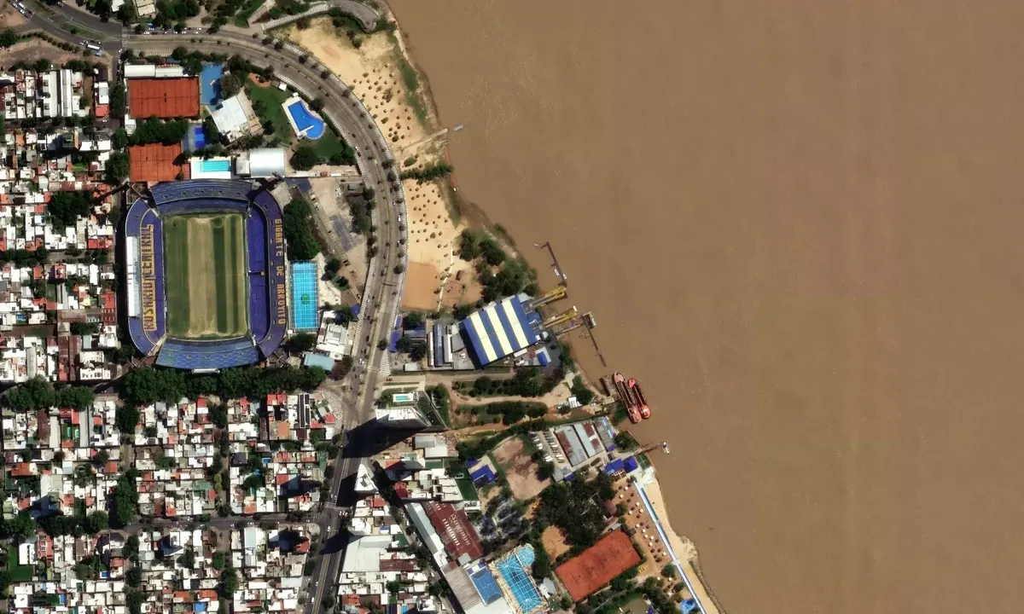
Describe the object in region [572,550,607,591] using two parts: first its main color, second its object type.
red tennis court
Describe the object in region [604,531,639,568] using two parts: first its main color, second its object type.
red tennis court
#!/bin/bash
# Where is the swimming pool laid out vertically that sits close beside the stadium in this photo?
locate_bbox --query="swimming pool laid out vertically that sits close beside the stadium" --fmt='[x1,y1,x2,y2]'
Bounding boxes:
[290,261,320,330]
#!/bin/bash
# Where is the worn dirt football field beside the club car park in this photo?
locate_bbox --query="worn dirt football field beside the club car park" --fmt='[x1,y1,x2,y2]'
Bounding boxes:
[495,438,547,500]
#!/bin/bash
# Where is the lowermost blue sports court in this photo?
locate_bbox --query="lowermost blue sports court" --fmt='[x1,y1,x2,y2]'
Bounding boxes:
[472,566,503,606]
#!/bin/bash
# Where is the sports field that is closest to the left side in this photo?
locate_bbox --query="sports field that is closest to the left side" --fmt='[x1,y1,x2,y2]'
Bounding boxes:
[161,211,251,342]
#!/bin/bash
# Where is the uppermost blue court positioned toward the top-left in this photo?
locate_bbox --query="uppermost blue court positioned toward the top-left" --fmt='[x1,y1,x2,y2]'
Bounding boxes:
[201,63,222,105]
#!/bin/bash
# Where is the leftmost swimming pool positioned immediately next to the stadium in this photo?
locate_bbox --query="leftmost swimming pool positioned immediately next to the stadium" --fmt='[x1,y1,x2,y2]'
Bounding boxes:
[191,157,231,179]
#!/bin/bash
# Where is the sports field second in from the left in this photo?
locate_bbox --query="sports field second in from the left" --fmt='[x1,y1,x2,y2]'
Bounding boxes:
[402,263,440,308]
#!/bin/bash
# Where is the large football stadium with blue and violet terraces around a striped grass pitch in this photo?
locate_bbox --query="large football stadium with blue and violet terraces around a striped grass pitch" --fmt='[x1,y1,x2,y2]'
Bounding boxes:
[118,168,290,374]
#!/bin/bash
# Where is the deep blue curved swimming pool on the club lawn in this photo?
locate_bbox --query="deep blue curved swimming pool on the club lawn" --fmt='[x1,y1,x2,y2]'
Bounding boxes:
[282,95,329,141]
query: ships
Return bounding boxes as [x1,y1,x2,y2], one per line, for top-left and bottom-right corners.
[629,379,650,419]
[614,371,639,424]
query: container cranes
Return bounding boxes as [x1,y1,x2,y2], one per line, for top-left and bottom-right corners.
[542,309,577,331]
[531,286,567,308]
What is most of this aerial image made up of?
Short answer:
water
